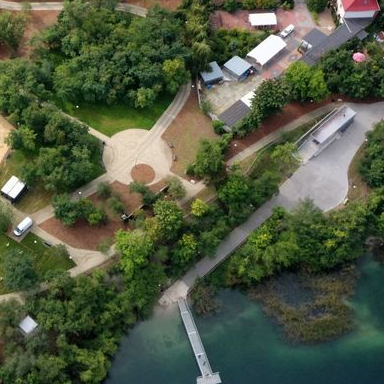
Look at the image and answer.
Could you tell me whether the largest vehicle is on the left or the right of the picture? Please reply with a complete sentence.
It is on the left.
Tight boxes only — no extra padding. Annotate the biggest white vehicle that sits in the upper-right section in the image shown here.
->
[280,21,295,36]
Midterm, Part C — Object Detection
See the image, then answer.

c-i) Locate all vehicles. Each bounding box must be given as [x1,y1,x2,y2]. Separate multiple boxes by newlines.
[13,213,33,235]
[280,21,295,36]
